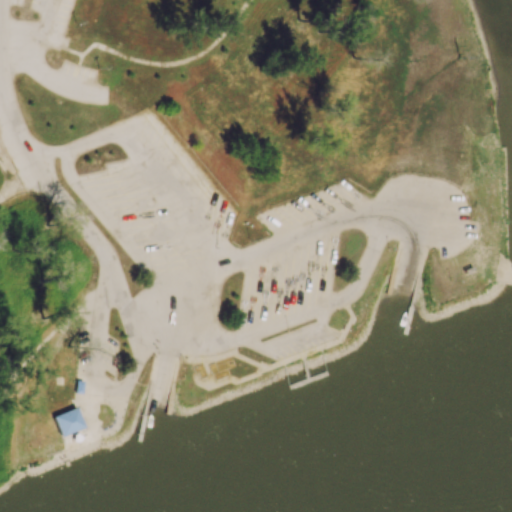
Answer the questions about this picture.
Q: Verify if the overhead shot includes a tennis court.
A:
No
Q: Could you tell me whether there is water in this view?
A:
Yes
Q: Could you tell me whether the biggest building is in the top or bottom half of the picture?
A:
bottom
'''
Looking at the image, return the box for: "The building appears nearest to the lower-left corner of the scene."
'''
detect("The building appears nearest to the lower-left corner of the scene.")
[56,408,86,437]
